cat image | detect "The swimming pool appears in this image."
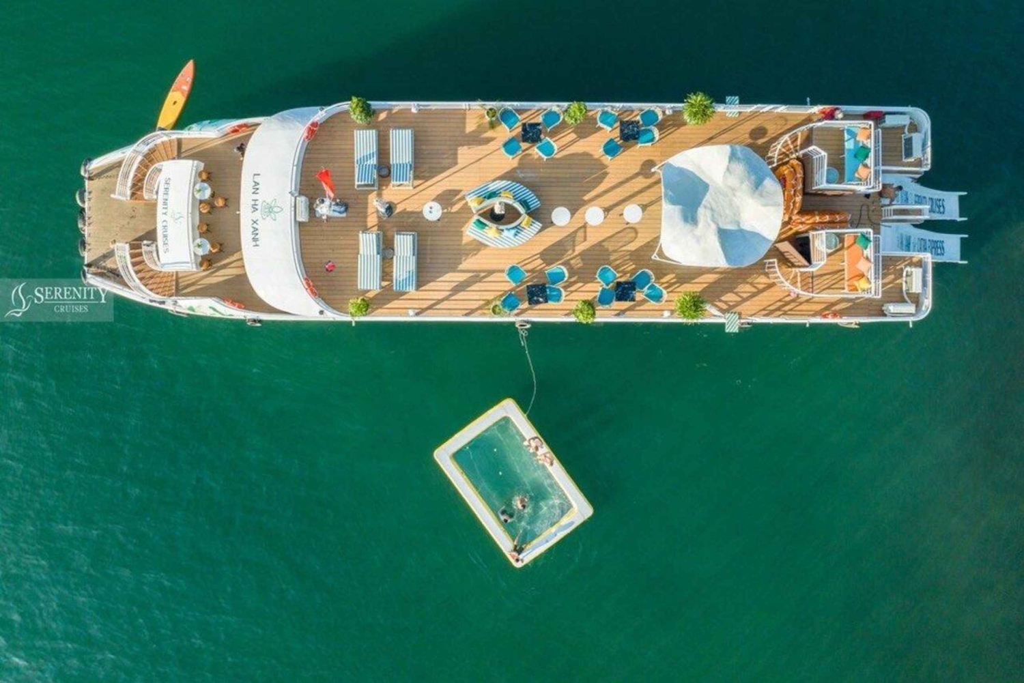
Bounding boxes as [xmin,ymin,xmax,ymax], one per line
[433,398,594,568]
